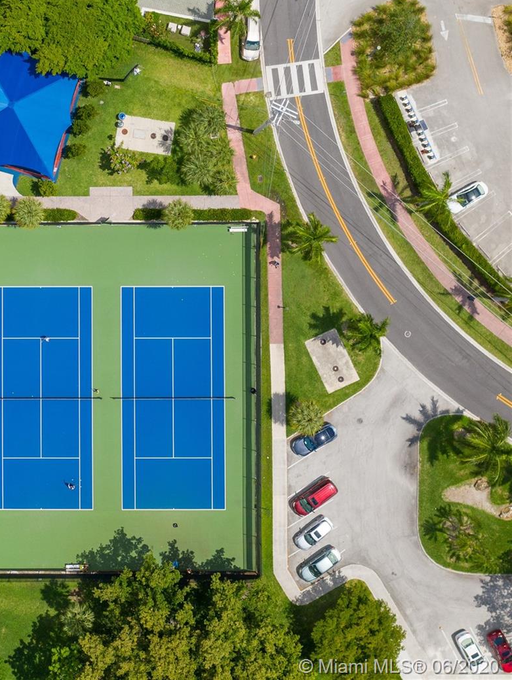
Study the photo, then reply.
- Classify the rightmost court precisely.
tennis court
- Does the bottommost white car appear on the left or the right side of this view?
right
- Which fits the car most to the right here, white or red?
red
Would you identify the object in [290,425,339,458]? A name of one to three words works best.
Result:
car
